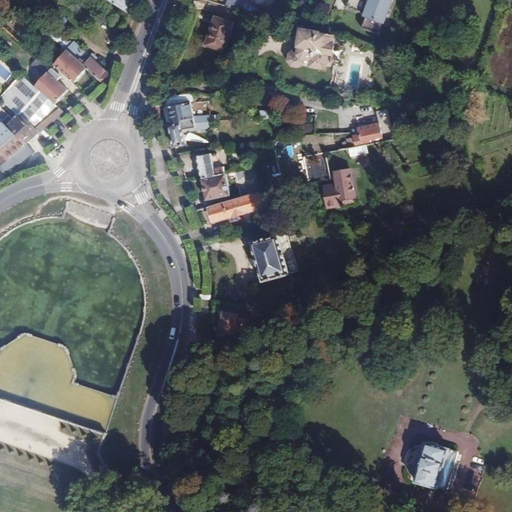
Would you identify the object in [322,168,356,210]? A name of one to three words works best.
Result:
house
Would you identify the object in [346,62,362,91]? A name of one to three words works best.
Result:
swimming pool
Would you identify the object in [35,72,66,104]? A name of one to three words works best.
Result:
house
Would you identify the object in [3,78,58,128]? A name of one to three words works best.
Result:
building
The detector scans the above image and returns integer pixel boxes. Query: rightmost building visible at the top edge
[361,0,392,32]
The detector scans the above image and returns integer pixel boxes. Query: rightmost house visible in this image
[404,441,460,490]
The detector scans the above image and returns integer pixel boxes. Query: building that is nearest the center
[250,235,299,284]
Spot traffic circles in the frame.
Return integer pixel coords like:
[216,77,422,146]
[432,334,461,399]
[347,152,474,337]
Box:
[53,116,146,208]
